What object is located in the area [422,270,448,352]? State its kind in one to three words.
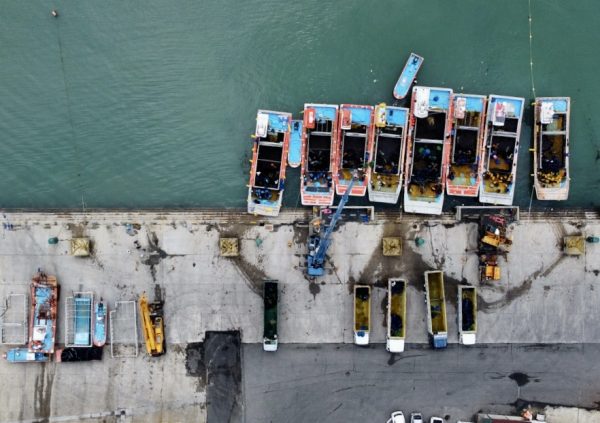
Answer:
truck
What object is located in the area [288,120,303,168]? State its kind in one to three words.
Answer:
boat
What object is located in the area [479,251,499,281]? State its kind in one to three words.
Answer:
work vehicle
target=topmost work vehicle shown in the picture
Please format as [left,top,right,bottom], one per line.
[473,228,514,250]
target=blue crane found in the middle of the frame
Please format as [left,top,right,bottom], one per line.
[299,178,356,279]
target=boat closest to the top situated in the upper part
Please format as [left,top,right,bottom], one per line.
[396,53,424,100]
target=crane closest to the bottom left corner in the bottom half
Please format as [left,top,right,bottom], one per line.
[141,291,169,355]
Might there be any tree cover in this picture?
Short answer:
No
